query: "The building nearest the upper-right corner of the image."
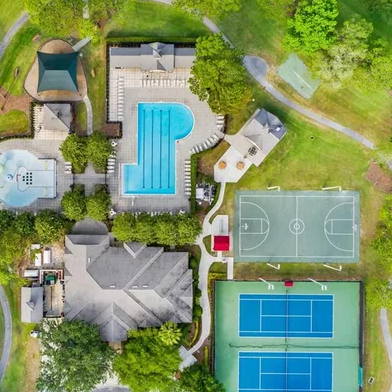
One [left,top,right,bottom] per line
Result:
[242,108,287,153]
